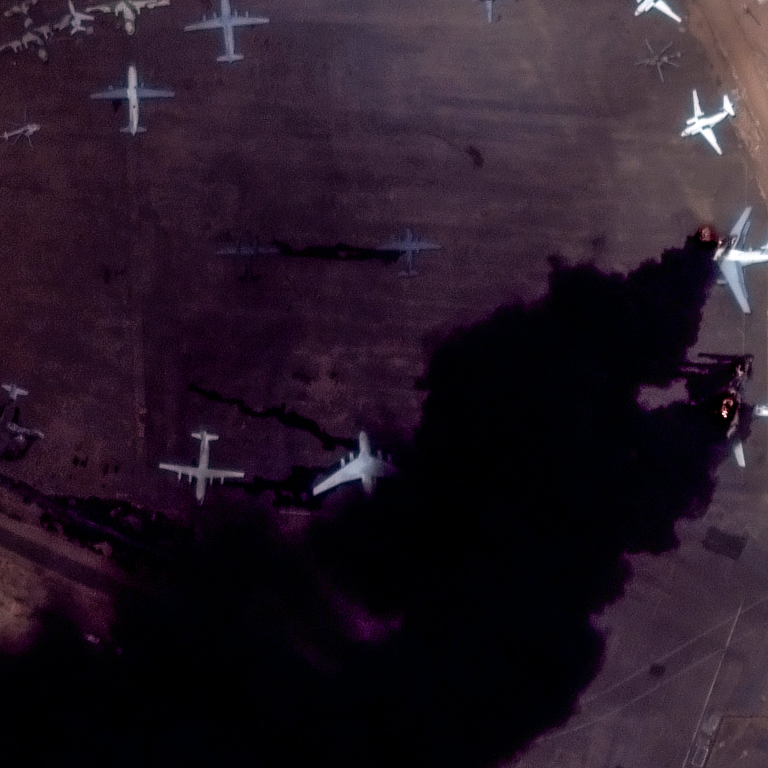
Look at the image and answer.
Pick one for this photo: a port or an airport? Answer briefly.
airport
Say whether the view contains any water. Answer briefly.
No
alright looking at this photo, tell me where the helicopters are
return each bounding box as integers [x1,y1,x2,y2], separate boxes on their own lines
[0,108,43,149]
[634,38,683,82]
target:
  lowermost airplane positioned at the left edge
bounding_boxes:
[0,384,44,456]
